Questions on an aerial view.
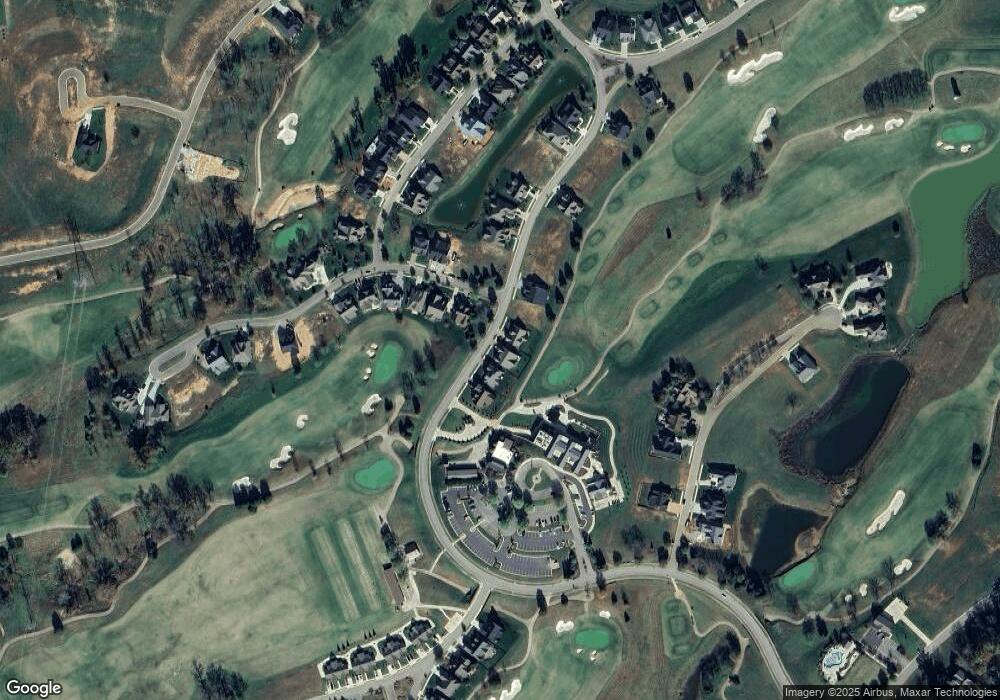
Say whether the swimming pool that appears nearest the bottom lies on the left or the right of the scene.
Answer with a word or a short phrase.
right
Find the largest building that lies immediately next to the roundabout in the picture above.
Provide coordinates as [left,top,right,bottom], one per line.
[529,410,600,470]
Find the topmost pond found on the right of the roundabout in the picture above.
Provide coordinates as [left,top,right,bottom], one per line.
[793,359,910,477]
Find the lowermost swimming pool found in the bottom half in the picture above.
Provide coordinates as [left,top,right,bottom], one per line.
[822,643,860,682]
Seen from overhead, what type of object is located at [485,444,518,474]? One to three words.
building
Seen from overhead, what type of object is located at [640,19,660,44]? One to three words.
house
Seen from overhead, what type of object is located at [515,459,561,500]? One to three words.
roundabout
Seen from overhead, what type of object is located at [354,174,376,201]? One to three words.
house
